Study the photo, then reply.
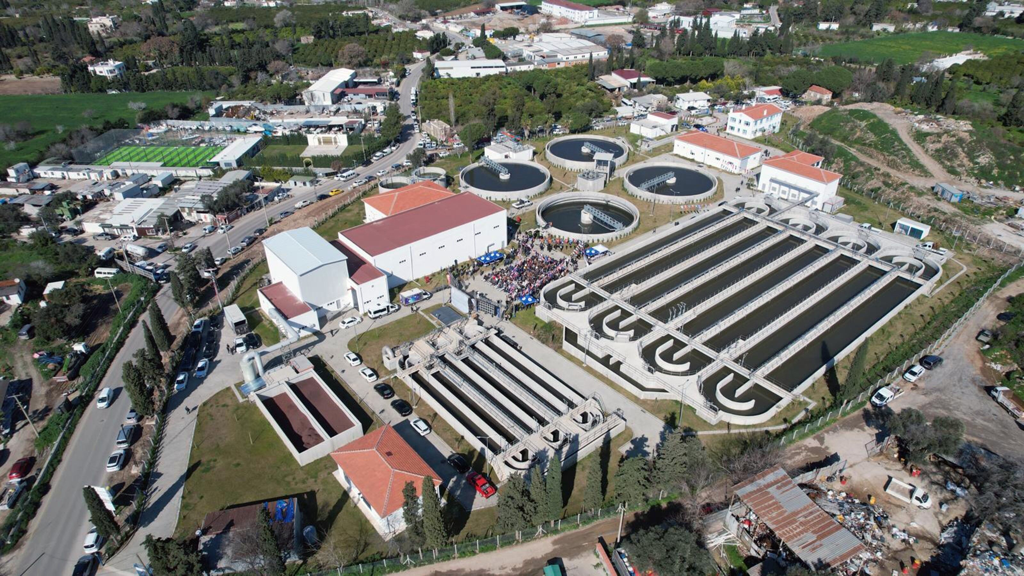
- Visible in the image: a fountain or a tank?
tank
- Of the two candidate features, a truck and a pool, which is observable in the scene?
truck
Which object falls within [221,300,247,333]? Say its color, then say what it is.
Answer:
white truck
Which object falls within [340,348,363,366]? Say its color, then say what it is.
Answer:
white car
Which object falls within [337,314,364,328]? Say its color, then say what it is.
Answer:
white car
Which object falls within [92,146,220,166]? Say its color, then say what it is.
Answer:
green soccer field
